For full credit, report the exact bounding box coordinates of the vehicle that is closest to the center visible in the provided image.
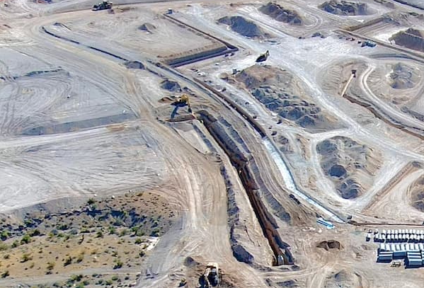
[171,95,191,114]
